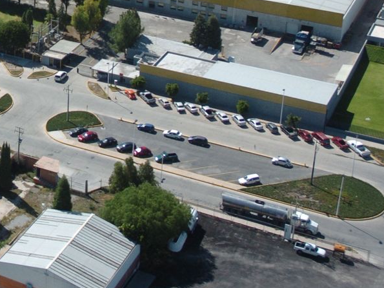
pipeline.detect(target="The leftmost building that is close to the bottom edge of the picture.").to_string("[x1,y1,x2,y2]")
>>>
[0,213,133,288]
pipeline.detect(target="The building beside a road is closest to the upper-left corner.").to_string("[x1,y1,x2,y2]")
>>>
[40,49,70,70]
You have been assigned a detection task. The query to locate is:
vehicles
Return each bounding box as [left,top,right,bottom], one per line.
[297,129,313,139]
[199,106,218,117]
[294,243,326,259]
[138,91,157,102]
[68,126,87,135]
[294,31,310,52]
[231,115,249,126]
[185,103,201,113]
[252,27,263,40]
[157,97,173,107]
[137,122,156,130]
[124,89,138,99]
[271,156,293,166]
[248,119,265,130]
[238,170,261,184]
[116,141,136,150]
[53,69,68,81]
[331,134,351,147]
[98,136,118,145]
[79,130,98,139]
[154,150,179,161]
[264,121,281,132]
[189,134,207,144]
[280,125,298,136]
[217,111,232,122]
[134,145,151,154]
[223,198,316,241]
[172,102,186,111]
[163,128,183,138]
[312,130,333,144]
